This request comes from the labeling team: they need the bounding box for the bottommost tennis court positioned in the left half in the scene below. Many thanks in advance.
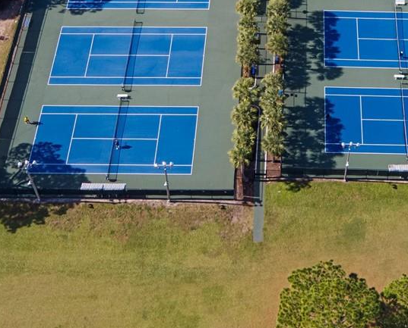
[27,98,199,176]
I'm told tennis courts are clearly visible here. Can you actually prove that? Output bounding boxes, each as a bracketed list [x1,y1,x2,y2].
[27,98,199,176]
[47,21,206,89]
[325,82,408,157]
[324,5,408,70]
[66,0,211,9]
